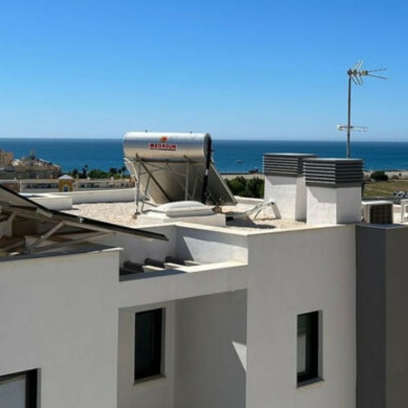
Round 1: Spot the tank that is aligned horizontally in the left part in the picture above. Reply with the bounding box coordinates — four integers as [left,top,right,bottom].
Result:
[118,132,206,160]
